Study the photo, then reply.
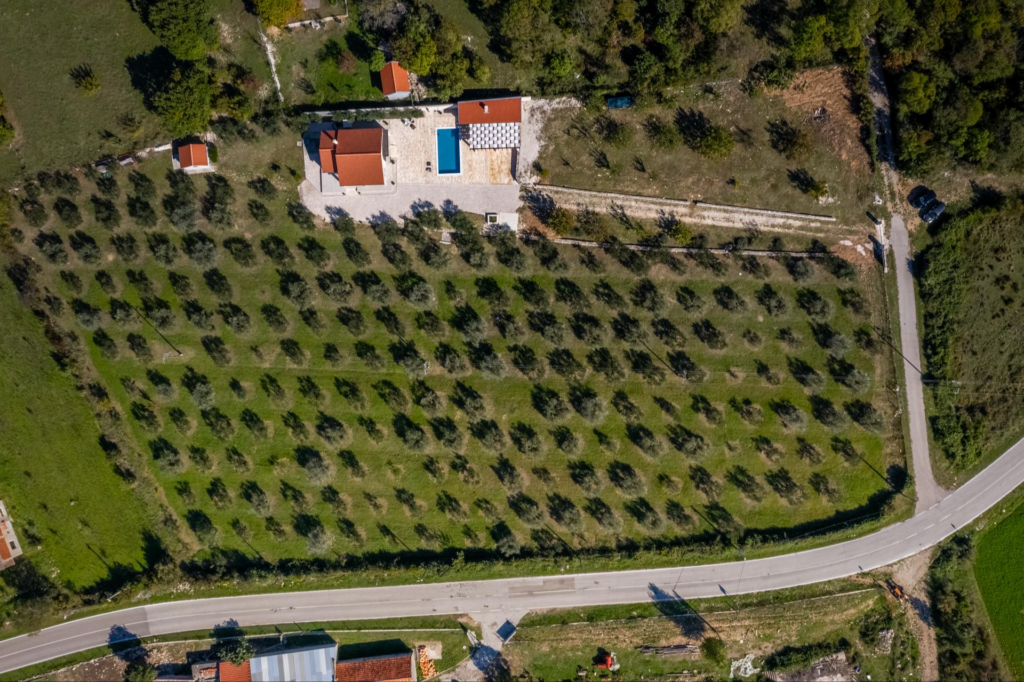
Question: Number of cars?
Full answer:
I count 2 cars.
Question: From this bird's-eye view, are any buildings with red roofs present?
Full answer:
Yes, I can see a building with a red roof in this picture.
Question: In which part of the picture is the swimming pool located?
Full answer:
You can find the swimming pool in the top area of the picture.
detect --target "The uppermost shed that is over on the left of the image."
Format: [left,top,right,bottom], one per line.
[380,61,410,97]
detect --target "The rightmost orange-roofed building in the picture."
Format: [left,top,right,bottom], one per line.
[458,97,522,126]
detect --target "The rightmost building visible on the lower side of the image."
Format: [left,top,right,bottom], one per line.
[338,650,417,682]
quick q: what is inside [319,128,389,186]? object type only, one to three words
house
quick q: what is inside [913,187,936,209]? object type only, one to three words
car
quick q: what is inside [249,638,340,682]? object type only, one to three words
barn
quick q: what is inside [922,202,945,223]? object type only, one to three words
car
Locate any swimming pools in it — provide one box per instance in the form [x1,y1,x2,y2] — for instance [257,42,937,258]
[432,124,462,177]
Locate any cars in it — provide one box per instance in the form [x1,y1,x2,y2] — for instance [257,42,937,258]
[922,202,945,223]
[913,187,936,209]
